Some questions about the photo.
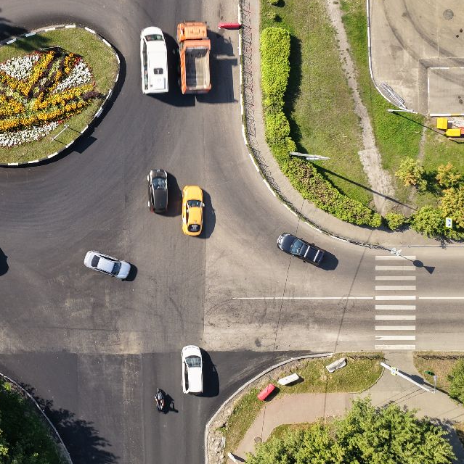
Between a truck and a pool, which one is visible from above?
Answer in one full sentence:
I can see a truck in this picture.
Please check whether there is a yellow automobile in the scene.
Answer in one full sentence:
Yes, I can see a yellow automobile in this picture.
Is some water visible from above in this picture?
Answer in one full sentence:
No, there's no water in this view.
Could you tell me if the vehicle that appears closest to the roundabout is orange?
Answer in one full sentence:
No, the color of the vehicle that appears closest to the roundabout is white.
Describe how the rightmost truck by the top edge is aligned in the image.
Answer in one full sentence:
From this overhead view, the rightmost truck by the top edge appears to run vertically.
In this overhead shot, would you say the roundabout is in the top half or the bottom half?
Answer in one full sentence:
Seen from above, the roundabout lies in the top half of the view.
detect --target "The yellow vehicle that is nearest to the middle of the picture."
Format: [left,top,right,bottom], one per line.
[179,185,206,235]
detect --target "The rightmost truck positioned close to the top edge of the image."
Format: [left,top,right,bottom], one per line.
[176,20,212,95]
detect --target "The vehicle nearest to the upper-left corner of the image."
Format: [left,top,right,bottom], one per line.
[138,29,169,93]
